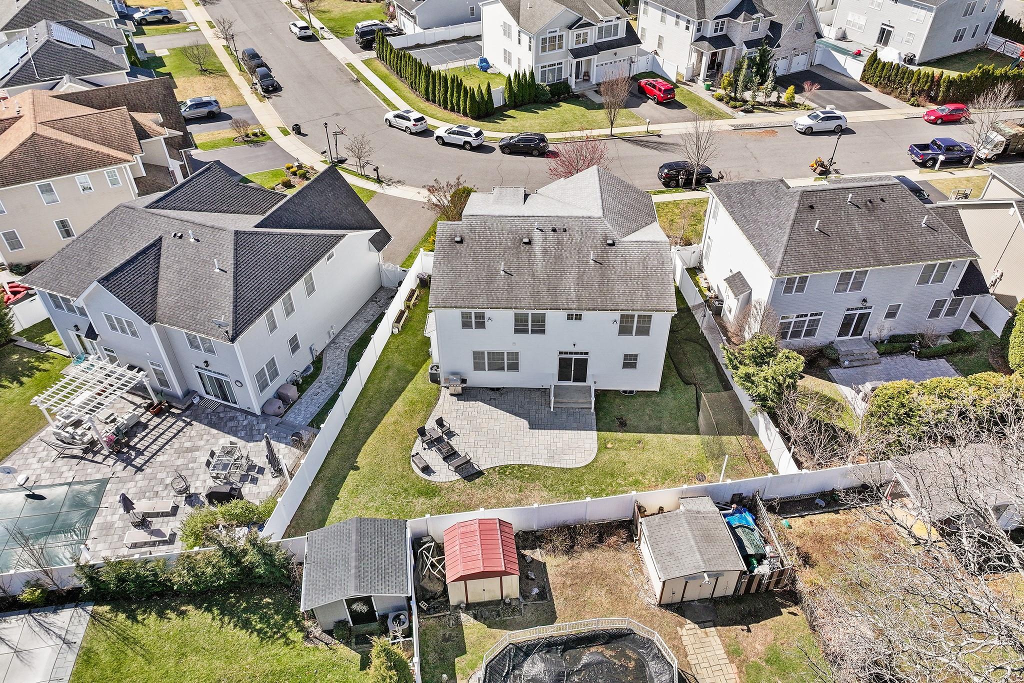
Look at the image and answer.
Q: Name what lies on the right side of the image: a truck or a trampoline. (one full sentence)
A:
There is a truck on the right side of the image.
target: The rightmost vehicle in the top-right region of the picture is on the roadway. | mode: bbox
[971,116,1024,160]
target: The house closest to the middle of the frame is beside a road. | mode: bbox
[420,165,678,414]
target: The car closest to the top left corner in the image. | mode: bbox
[147,4,175,22]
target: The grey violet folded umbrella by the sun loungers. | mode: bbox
[117,494,140,527]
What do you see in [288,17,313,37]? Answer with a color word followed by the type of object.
white car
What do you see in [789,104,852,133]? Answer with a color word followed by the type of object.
white car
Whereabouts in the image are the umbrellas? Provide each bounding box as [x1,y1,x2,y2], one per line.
[117,494,140,527]
[262,434,283,476]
